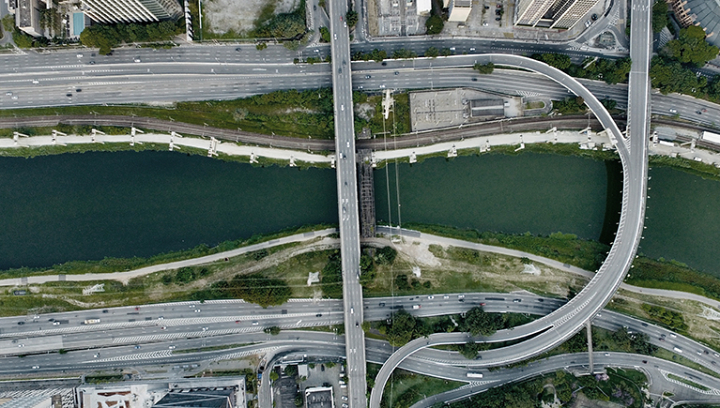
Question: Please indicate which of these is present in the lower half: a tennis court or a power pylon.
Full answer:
There is a power pylon in the lower half.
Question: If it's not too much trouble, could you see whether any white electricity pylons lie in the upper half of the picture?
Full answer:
Yes, a white electricity pylon shows up in the upper half of the picture.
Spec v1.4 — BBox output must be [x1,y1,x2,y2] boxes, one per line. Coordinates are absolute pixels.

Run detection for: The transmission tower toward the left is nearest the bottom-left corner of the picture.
[80,281,106,297]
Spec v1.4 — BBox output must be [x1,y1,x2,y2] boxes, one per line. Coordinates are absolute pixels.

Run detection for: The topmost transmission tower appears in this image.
[380,90,400,119]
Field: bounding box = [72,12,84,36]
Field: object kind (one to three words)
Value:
swimming pool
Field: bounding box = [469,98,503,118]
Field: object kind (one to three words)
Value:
building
